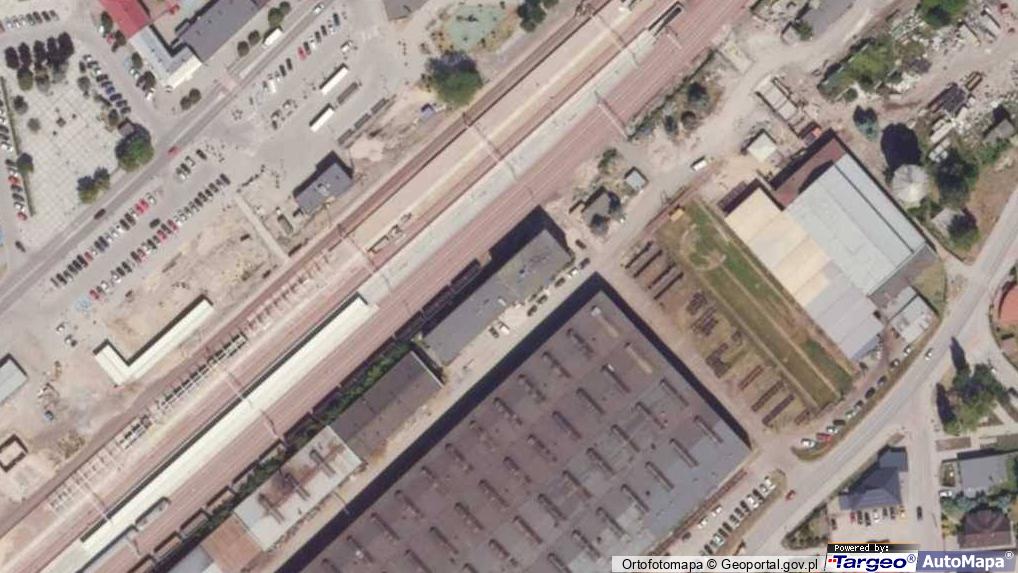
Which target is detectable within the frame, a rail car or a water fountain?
rail car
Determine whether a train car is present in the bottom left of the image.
Yes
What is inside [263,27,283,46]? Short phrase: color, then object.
white vehicle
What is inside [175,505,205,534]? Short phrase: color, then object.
gray rail car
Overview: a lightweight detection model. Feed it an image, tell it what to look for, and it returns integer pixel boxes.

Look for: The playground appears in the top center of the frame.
[443,5,505,49]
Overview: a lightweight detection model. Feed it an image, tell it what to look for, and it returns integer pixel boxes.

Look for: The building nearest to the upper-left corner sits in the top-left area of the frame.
[98,0,153,39]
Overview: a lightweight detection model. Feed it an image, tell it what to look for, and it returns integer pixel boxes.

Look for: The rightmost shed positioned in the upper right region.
[985,119,1018,153]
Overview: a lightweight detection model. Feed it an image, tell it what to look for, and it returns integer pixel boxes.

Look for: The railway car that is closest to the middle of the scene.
[449,263,479,291]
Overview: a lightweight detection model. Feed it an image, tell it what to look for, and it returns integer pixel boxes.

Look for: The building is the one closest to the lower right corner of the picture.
[960,506,1013,548]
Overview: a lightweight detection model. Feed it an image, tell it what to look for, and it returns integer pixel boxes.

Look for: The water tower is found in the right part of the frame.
[891,167,929,203]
